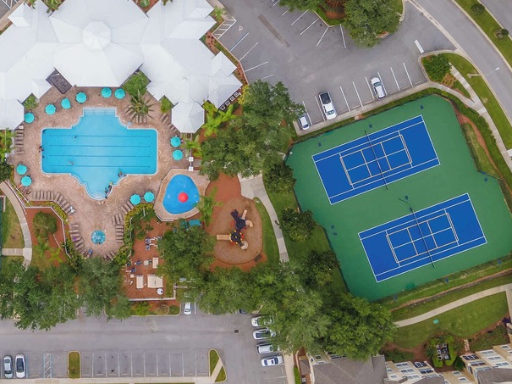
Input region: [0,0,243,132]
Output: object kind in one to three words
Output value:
building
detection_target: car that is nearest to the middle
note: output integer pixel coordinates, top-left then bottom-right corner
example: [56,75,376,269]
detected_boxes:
[297,114,311,131]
